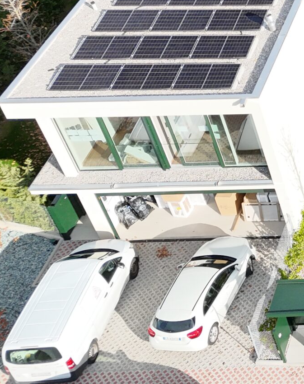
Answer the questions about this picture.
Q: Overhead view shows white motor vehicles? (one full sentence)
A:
Yes, there's a white motor vehicle here.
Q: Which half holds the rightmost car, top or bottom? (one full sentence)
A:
The bottom half of the photo is where the rightmost car is.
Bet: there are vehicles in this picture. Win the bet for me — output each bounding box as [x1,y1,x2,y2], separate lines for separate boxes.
[2,244,139,384]
[142,245,251,360]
